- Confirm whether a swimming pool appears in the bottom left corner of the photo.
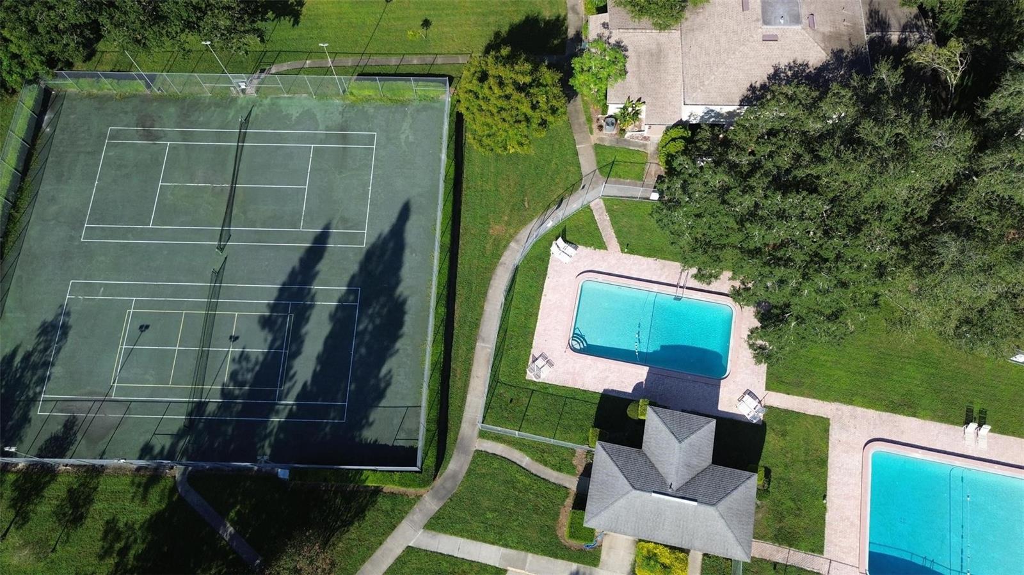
No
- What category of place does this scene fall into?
sports ground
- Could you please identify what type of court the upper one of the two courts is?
tennis court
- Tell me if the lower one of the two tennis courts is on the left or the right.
left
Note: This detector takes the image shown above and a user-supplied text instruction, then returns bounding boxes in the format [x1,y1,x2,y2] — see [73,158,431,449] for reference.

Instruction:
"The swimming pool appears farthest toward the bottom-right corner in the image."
[859,442,1024,575]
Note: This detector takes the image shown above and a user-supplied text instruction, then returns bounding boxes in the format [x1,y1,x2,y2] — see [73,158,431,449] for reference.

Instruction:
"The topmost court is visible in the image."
[8,95,446,268]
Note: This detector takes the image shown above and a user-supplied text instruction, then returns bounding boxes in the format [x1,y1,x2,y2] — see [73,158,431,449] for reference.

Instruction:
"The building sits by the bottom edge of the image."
[584,409,759,561]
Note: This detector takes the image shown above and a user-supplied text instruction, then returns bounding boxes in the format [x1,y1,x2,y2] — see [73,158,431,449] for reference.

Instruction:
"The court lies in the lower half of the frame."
[0,259,434,468]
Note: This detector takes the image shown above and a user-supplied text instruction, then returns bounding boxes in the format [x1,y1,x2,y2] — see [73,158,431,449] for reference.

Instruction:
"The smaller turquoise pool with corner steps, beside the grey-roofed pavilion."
[558,276,742,387]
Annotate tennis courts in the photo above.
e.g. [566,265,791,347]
[0,259,434,468]
[8,95,446,268]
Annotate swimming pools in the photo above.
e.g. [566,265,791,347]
[859,442,1024,575]
[558,276,742,387]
